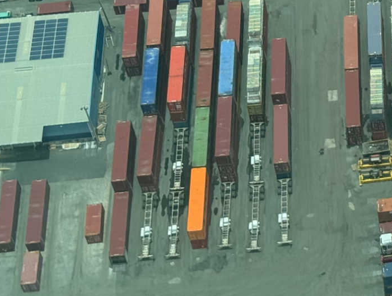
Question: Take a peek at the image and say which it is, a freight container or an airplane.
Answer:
freight container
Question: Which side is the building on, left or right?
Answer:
left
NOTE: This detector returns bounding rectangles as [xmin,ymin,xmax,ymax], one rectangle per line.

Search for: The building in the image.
[0,11,105,164]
